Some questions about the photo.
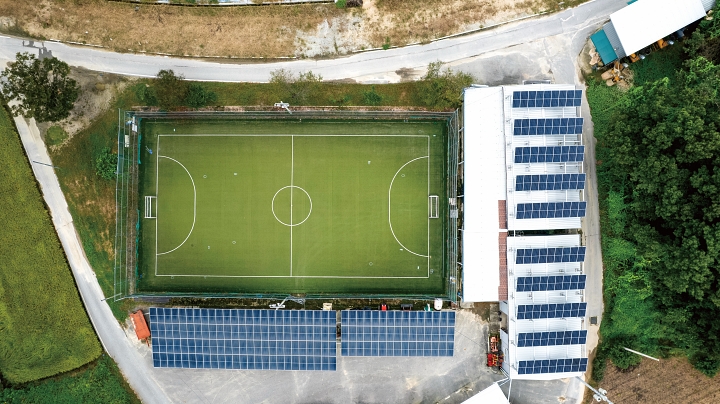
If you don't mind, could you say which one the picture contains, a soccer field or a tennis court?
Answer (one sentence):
There is a soccer field in the scene.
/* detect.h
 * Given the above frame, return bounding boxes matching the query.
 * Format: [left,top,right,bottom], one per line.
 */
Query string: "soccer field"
[141,118,449,294]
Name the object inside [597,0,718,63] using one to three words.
barn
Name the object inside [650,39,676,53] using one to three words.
work vehicle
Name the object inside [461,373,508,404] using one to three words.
shed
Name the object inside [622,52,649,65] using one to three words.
vehicle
